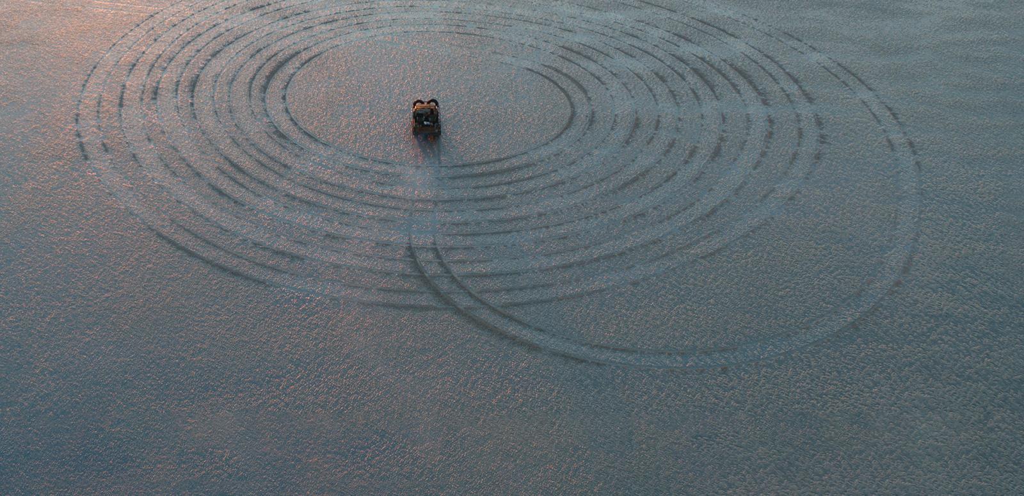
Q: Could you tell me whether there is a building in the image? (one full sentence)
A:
No, I find no building anywhere in the image.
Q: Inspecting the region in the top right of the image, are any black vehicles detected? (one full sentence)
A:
No, looking in the top right of the image, there is no black vehicle.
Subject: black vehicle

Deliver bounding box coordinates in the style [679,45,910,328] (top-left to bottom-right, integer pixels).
[413,98,442,139]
